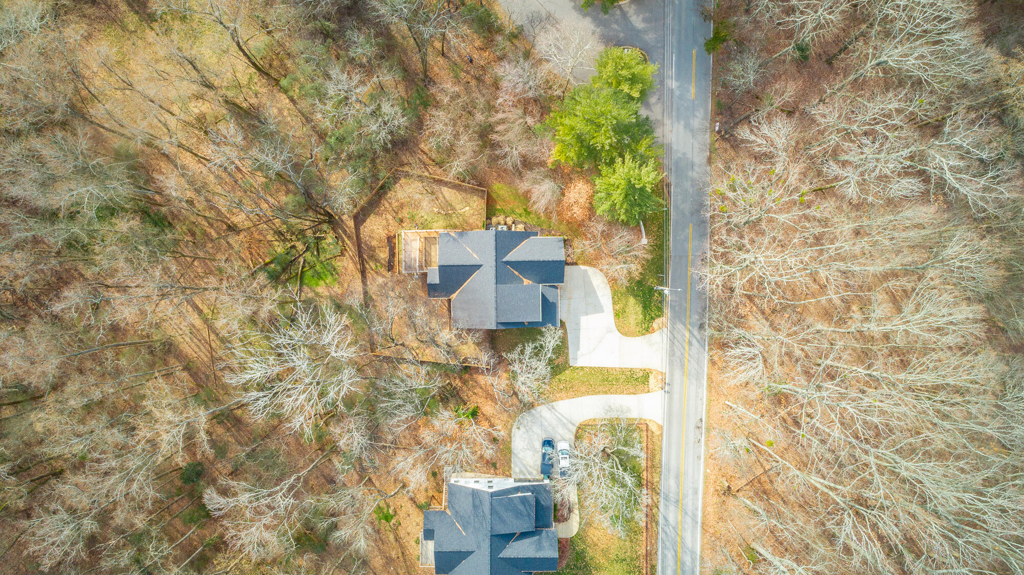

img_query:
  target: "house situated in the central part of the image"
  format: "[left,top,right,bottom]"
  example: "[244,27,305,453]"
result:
[426,230,564,328]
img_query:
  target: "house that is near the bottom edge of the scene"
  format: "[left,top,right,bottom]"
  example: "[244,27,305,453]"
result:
[422,478,560,575]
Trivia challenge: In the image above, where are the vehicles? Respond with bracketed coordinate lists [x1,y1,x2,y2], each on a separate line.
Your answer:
[556,442,571,479]
[541,439,556,476]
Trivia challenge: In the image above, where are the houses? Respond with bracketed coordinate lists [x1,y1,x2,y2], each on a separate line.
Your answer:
[426,230,564,328]
[422,478,560,575]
